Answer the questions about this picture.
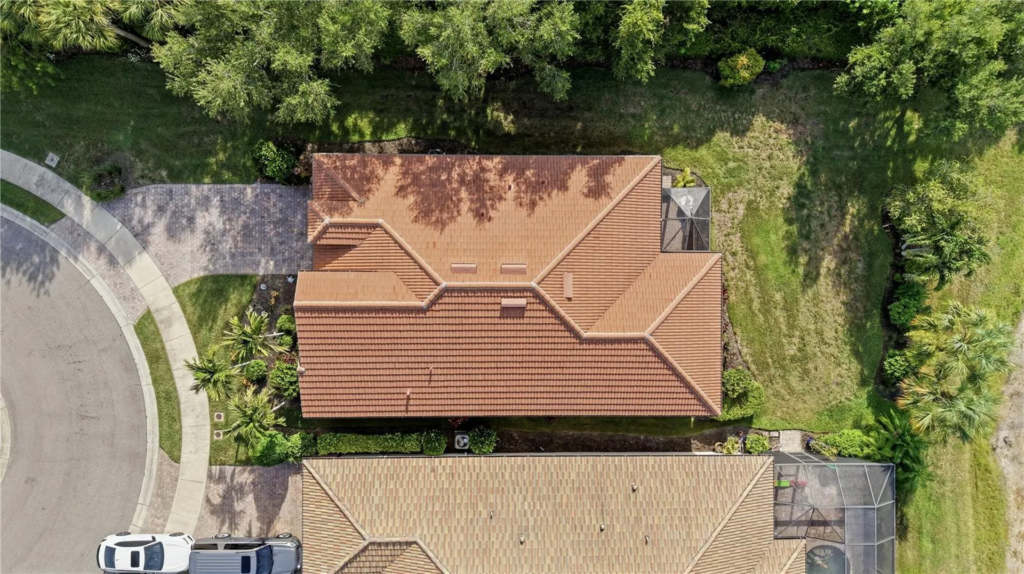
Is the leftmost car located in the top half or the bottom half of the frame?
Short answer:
bottom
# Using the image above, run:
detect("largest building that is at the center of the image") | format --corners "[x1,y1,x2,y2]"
[291,152,725,419]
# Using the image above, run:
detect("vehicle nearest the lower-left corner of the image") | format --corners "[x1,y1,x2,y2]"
[100,532,197,574]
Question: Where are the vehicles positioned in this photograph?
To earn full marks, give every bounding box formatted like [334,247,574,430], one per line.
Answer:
[189,532,301,574]
[100,532,197,574]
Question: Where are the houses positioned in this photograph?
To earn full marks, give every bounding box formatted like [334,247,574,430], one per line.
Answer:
[291,152,725,419]
[299,452,809,574]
